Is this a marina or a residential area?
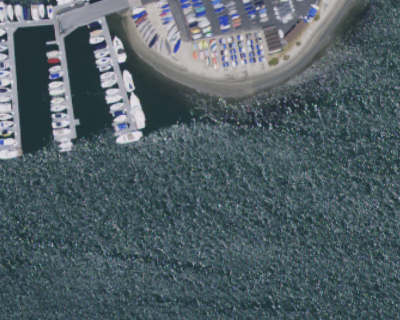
marina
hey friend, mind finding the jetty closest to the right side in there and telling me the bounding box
[94,16,136,136]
